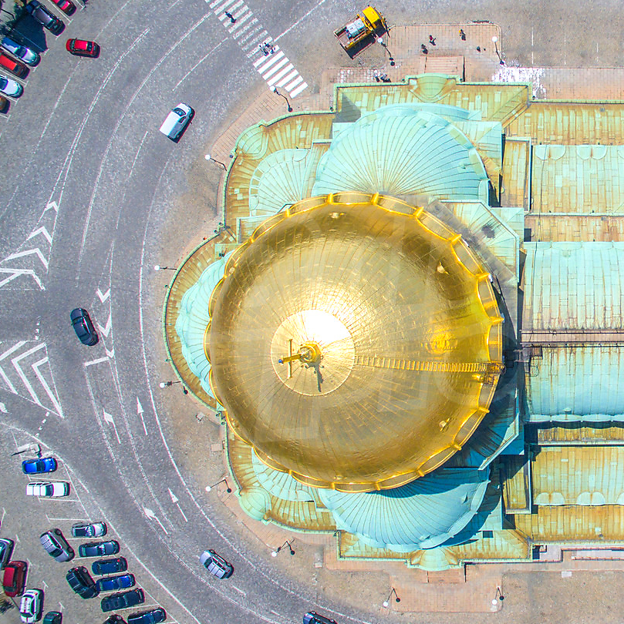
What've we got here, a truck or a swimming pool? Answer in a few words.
truck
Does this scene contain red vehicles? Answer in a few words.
Yes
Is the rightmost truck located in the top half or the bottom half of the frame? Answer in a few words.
top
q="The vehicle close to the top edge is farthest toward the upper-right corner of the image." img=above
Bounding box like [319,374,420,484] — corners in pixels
[335,3,390,53]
